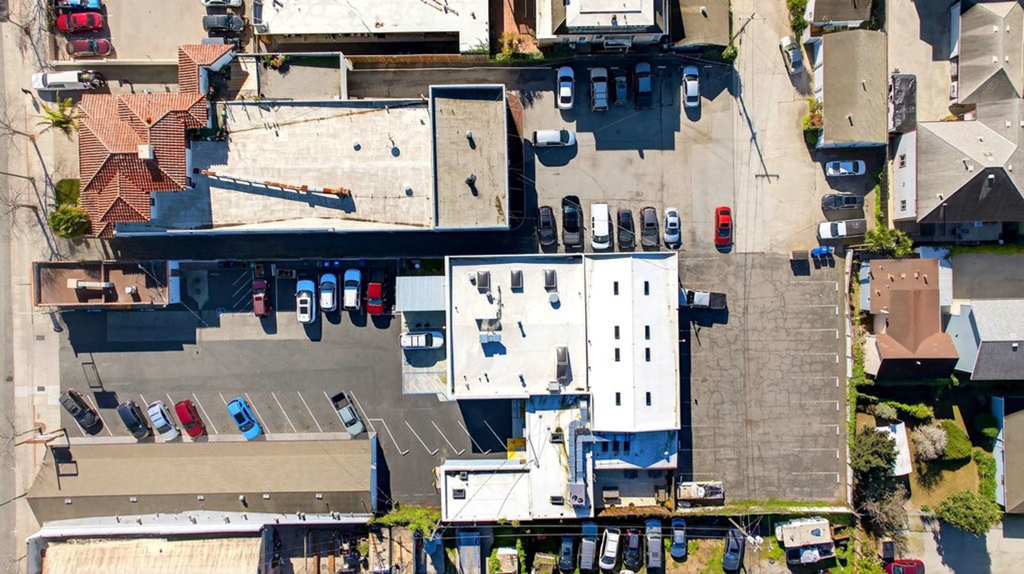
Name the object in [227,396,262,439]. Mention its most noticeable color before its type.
blue car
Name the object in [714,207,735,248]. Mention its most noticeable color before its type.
red car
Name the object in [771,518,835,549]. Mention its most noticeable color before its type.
white camper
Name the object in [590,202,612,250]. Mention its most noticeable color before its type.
white vehicle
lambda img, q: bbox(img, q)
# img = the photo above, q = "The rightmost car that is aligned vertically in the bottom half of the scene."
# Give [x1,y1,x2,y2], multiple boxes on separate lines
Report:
[723,527,745,571]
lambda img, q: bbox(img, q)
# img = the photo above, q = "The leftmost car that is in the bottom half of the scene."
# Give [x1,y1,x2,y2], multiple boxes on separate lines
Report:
[61,388,100,435]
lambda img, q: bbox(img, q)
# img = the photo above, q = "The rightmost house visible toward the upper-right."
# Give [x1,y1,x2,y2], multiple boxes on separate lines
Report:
[888,1,1024,241]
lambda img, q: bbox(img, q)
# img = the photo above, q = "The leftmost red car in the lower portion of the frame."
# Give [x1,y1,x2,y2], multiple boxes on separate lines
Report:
[173,398,207,440]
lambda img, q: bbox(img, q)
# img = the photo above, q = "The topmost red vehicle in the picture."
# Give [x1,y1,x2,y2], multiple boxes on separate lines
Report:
[57,10,106,33]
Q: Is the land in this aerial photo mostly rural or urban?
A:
urban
